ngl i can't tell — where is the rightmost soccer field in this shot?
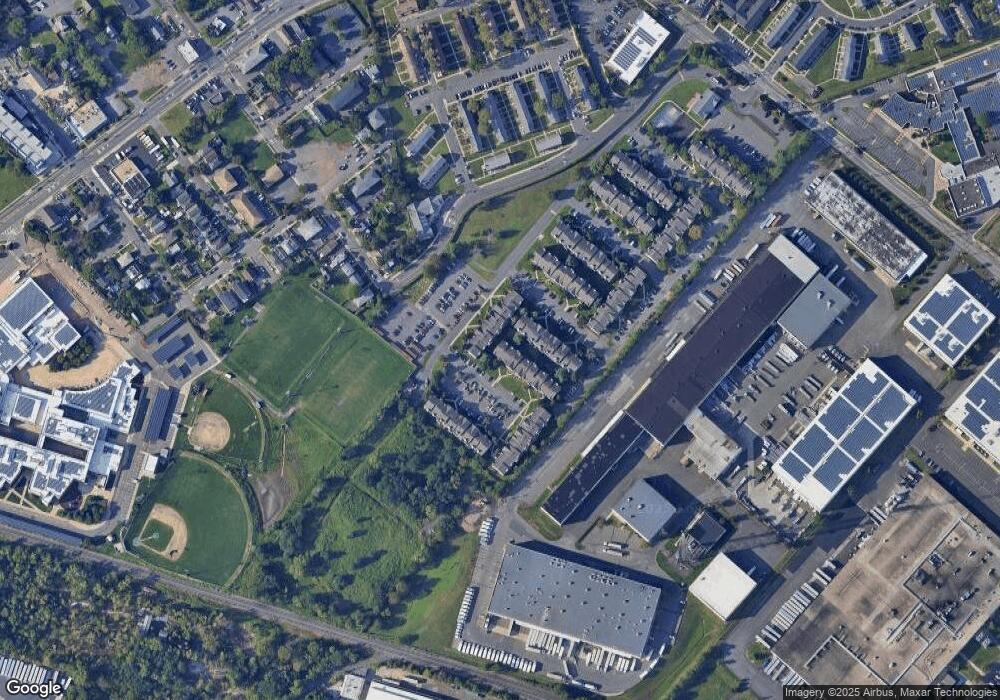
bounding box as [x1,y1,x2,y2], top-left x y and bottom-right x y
[287,316,413,446]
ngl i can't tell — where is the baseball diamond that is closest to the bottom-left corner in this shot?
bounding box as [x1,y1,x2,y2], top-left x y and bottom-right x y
[123,451,253,587]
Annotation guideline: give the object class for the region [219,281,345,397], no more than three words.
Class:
soccer field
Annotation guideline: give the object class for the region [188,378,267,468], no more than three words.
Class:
baseball field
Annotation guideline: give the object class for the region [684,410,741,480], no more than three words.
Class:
building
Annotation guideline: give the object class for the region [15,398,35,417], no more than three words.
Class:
solar array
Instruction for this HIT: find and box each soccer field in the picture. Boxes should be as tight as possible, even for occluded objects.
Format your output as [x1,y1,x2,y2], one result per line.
[219,281,345,397]
[287,316,413,446]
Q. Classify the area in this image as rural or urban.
urban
